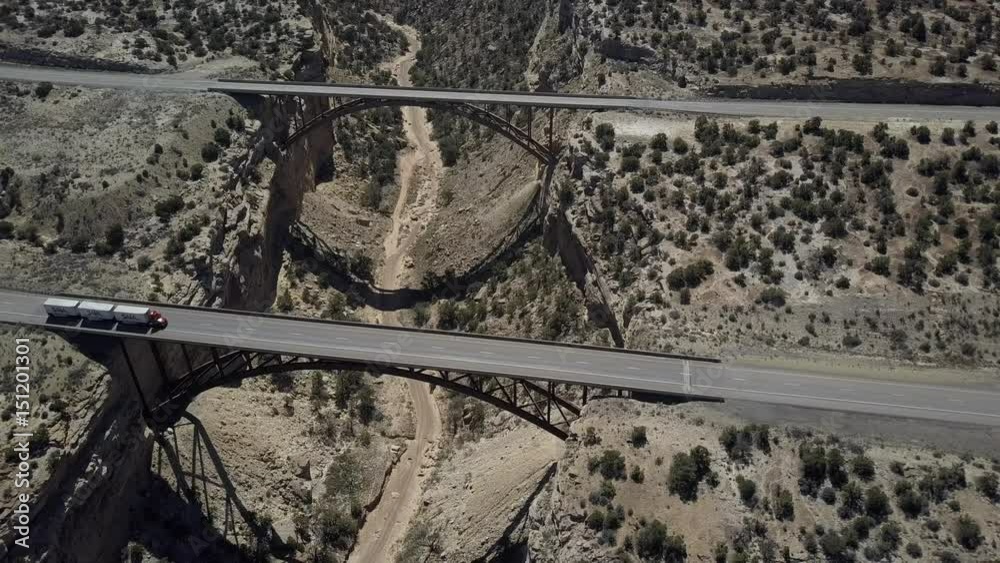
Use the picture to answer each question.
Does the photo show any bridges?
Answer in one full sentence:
Yes, looking at the shot, I can spot a bridge.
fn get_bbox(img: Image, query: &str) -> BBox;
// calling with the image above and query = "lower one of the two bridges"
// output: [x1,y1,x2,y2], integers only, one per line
[0,286,724,435]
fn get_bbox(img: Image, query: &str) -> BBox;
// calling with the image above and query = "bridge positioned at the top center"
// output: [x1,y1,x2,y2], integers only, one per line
[204,80,713,172]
